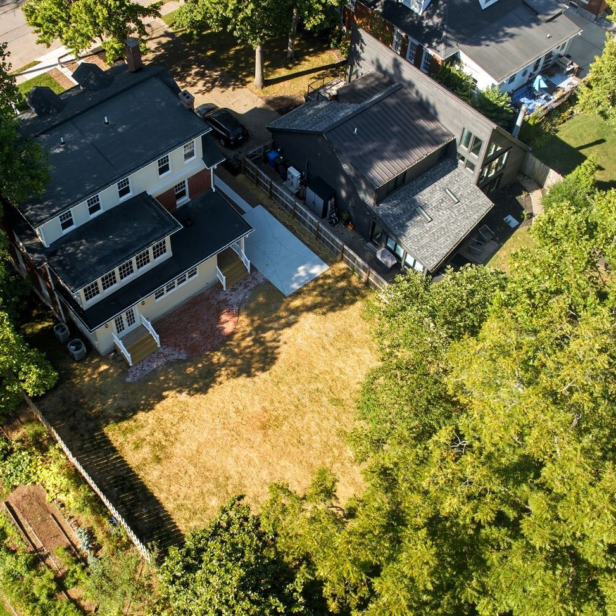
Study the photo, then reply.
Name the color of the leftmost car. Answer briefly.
black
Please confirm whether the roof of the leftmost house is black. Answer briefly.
Yes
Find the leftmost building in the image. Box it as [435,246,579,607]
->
[0,40,266,367]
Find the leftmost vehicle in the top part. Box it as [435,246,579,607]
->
[197,99,249,145]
